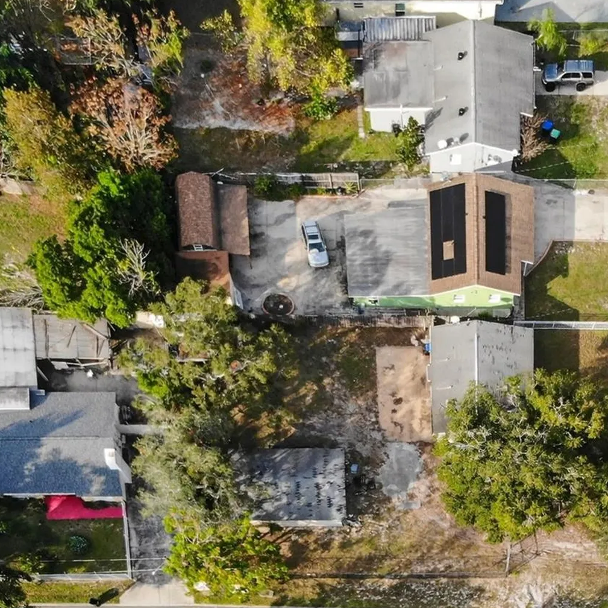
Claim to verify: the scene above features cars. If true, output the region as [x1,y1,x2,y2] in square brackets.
[301,217,330,271]
[544,60,596,93]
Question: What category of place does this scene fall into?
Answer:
residential area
